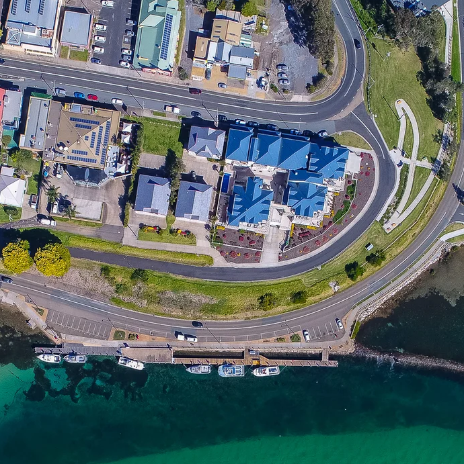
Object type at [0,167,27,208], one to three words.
house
